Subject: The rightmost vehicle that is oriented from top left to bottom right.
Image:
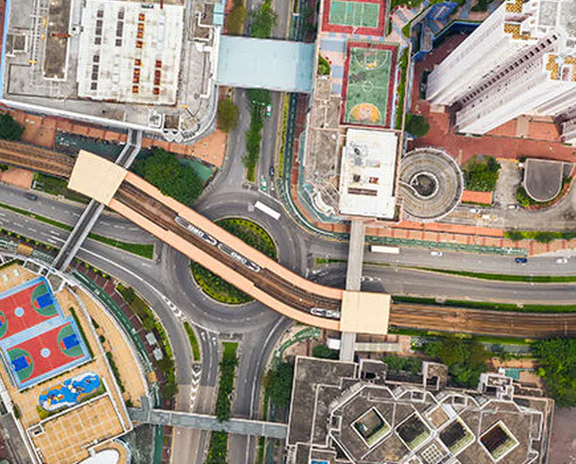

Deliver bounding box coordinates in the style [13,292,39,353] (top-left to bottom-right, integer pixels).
[255,200,281,220]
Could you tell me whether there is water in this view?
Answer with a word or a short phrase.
No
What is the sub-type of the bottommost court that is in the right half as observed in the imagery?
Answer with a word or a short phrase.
basketball court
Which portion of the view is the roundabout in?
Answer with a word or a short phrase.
center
